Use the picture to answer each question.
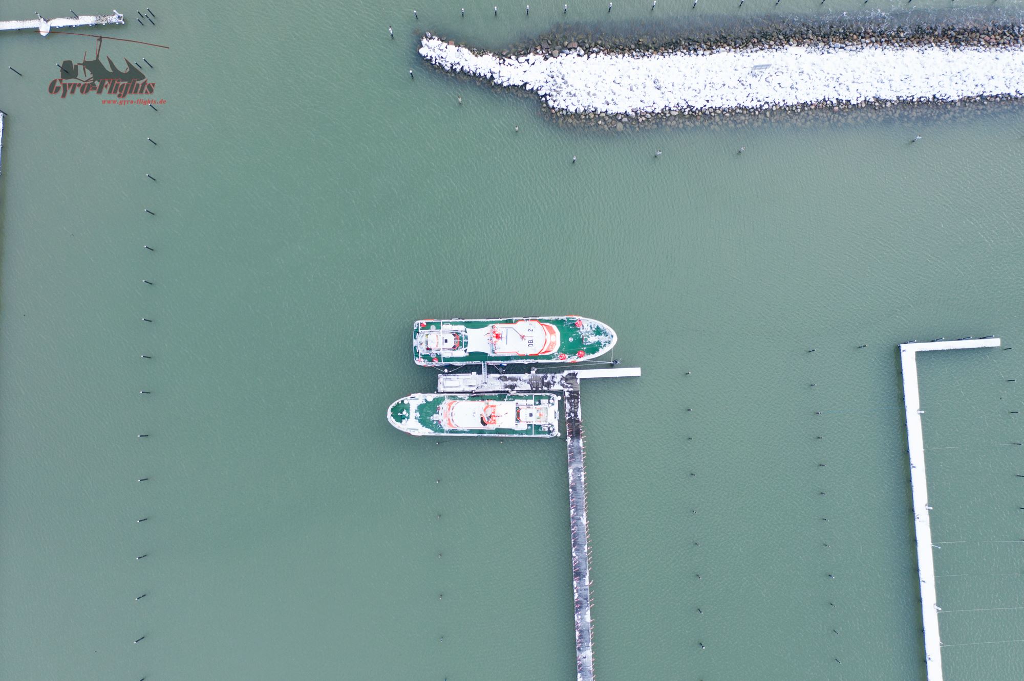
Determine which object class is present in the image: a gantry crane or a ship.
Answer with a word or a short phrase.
ship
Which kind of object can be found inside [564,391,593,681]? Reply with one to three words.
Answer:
pier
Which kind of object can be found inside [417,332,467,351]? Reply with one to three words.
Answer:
boat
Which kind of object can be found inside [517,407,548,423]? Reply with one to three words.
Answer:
boat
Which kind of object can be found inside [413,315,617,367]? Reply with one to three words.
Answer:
ship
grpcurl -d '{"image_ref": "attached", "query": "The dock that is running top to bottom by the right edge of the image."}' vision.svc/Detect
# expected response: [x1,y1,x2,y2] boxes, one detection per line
[897,338,1000,681]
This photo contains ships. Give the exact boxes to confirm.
[413,315,617,367]
[387,393,559,437]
